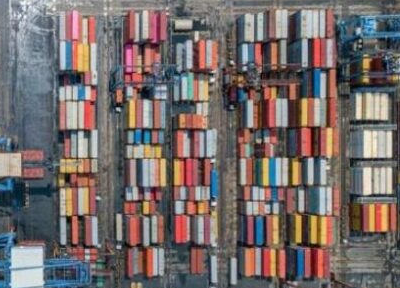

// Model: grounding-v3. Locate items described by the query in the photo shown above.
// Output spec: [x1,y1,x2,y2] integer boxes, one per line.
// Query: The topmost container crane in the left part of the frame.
[104,62,185,95]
